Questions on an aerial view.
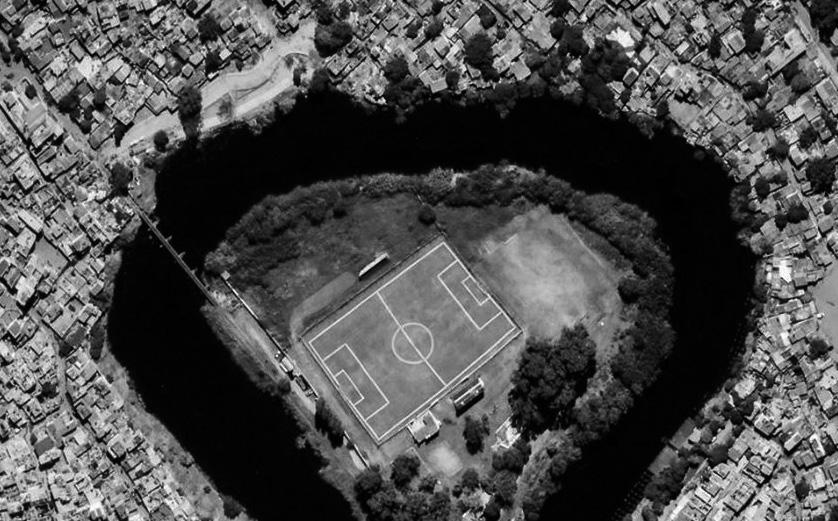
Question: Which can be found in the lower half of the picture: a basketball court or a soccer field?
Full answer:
It is a soccer field that can be seen in the lower half of the picture.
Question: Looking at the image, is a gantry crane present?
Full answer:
No, I find no gantry crane anywhere in the image.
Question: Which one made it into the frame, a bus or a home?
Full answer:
There is a home in the scene.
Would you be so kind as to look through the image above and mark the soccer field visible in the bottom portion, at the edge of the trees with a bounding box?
[302,236,520,443]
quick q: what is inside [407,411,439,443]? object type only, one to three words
building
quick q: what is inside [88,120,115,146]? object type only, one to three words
house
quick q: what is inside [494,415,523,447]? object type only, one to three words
house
